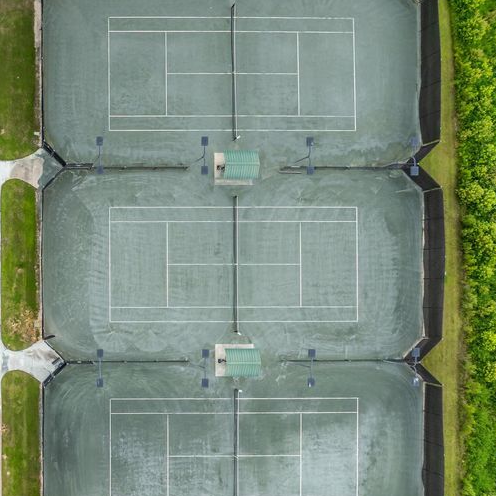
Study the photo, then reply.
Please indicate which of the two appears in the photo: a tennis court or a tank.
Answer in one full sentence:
Looking from above, you can make out a tennis court.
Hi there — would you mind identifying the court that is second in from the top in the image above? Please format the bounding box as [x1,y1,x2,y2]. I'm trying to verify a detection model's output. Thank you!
[45,167,426,362]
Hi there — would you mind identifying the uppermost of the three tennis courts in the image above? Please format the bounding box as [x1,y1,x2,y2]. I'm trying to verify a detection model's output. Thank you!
[44,0,421,167]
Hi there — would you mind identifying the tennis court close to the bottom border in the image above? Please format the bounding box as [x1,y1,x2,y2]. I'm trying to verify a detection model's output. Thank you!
[45,361,425,496]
